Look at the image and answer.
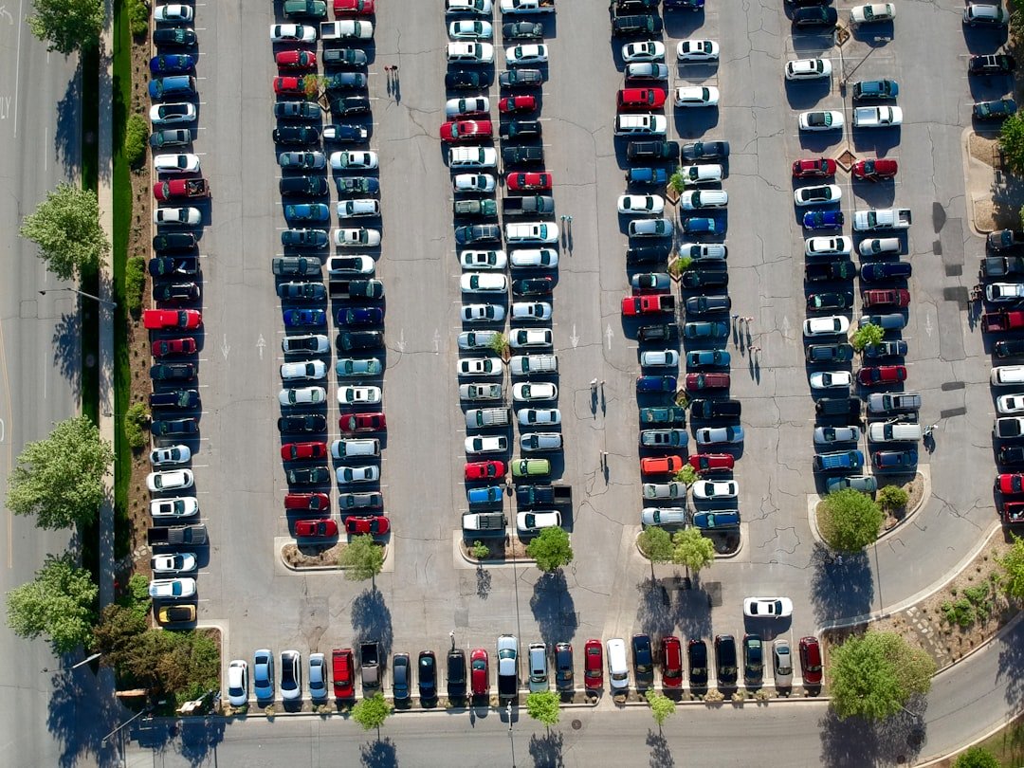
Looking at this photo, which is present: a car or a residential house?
car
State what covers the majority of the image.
paved ground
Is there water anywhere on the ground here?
No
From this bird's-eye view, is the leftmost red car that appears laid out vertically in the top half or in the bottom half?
bottom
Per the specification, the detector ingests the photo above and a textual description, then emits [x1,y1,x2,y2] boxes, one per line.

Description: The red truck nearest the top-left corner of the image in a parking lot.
[153,177,211,201]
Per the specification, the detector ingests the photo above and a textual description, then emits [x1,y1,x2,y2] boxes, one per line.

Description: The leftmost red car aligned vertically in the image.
[332,648,354,697]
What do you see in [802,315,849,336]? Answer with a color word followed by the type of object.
white car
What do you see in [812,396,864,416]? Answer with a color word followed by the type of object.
black vehicle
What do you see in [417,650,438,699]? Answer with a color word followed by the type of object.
black car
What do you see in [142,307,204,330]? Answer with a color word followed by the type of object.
red truck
